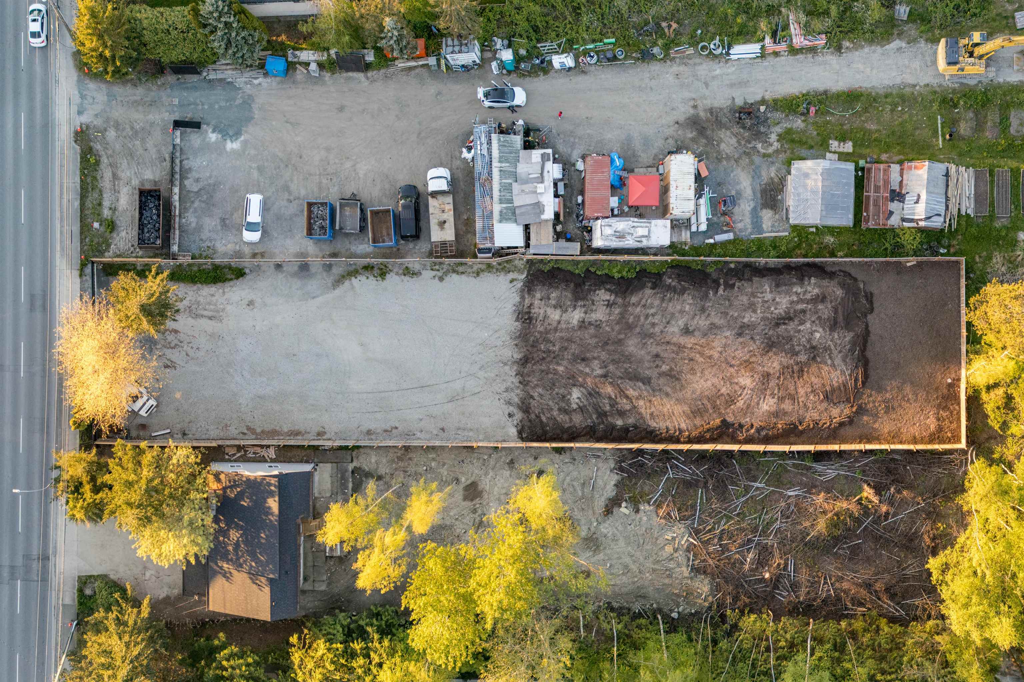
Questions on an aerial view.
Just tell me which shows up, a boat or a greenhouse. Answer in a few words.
greenhouse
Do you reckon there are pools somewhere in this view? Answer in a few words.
No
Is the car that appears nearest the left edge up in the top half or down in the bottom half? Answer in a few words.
top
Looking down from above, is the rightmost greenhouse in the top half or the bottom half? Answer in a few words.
top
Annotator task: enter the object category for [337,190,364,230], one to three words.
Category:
trailer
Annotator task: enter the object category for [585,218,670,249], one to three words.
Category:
camper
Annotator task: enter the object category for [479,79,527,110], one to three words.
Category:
car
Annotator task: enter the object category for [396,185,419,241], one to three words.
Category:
truck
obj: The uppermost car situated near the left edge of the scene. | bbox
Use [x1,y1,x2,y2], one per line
[27,4,53,50]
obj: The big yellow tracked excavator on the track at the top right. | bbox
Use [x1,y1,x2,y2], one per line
[932,32,1024,76]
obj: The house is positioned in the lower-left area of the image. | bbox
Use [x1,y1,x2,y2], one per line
[207,466,317,622]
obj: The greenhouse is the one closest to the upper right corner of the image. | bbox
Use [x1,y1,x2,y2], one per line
[853,161,950,231]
